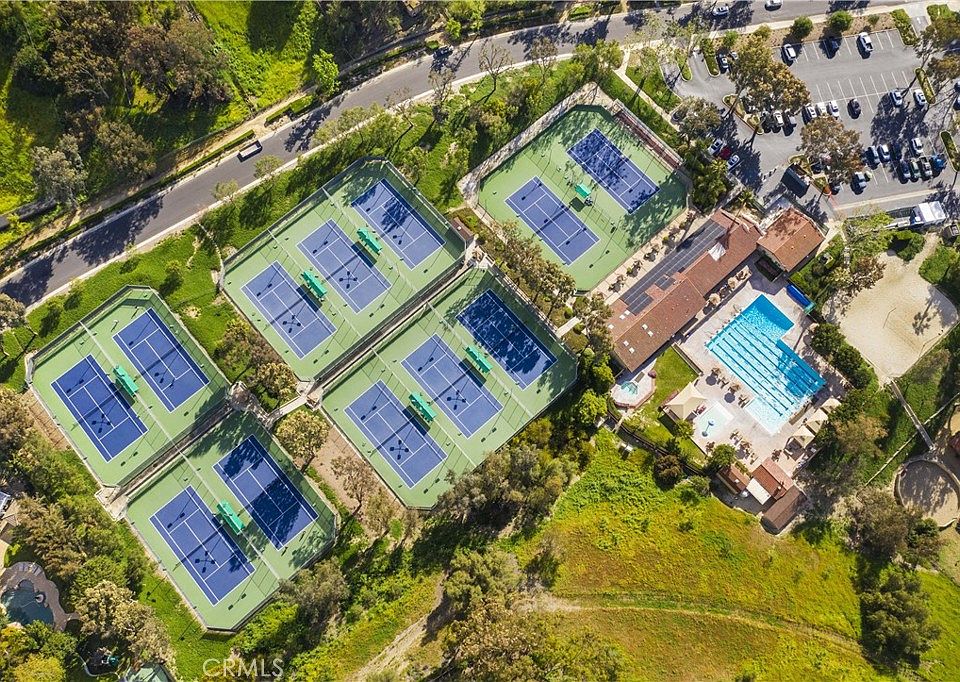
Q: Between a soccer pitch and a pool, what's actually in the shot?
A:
pool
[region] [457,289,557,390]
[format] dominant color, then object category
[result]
blue tennis court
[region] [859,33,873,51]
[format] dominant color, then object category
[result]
white vehicle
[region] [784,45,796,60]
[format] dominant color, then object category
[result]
white vehicle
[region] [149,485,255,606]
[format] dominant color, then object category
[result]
blue tennis court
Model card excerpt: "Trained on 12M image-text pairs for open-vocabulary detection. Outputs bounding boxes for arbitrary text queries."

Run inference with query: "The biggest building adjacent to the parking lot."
[606,208,766,371]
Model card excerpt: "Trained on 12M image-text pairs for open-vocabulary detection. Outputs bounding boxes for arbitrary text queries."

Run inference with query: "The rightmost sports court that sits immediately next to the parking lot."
[822,231,957,382]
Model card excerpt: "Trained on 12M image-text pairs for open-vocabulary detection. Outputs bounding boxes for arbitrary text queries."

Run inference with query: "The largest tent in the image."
[663,383,708,423]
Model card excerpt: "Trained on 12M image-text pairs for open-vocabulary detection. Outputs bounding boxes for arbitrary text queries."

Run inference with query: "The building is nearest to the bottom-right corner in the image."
[758,486,805,533]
